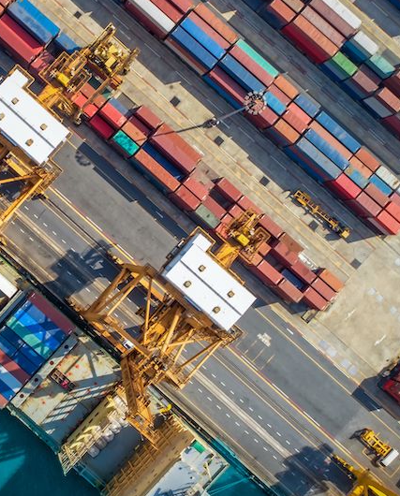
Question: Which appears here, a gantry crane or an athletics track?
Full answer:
The image shows a gantry crane.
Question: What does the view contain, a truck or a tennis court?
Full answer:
There is a truck in the scene.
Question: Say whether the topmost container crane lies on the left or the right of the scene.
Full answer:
The topmost container crane appears in the left half of the scene.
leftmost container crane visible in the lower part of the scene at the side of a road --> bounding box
[64,211,276,454]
